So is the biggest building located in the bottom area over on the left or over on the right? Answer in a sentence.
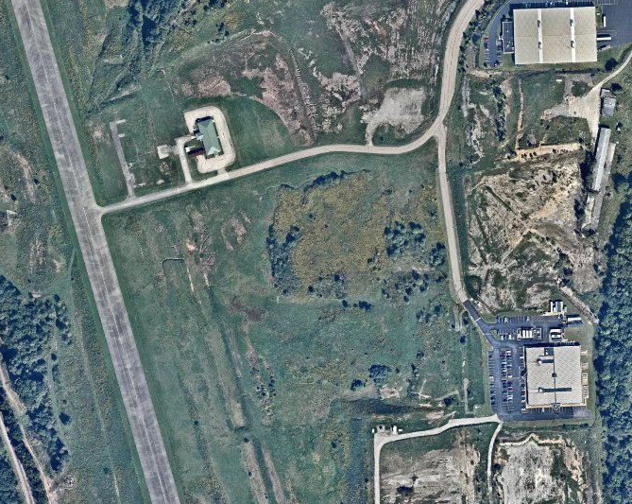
You can find the biggest building located in the bottom area on the right side of the picture.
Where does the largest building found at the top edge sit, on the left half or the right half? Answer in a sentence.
The largest building found at the top edge is on the right side of the image.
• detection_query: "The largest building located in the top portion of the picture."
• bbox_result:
[514,7,598,65]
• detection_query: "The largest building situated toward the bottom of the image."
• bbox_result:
[522,346,584,410]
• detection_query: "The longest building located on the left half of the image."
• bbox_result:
[198,120,221,155]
